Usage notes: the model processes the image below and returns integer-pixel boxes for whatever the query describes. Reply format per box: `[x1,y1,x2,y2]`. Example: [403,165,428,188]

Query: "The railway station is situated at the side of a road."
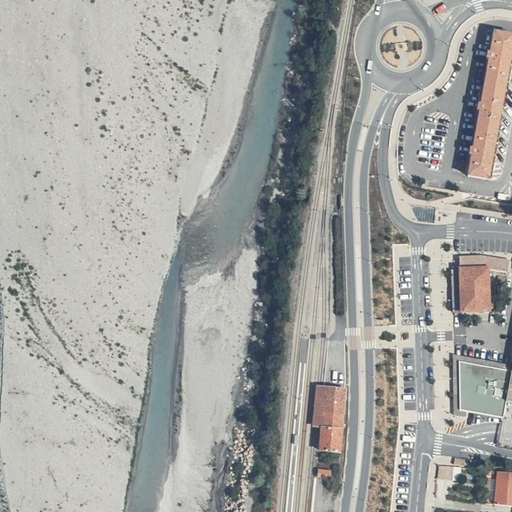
[286,339,348,512]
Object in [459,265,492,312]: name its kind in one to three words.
house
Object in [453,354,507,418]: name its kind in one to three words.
building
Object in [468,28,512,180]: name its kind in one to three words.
building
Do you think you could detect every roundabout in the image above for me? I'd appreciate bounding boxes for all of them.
[355,0,462,94]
